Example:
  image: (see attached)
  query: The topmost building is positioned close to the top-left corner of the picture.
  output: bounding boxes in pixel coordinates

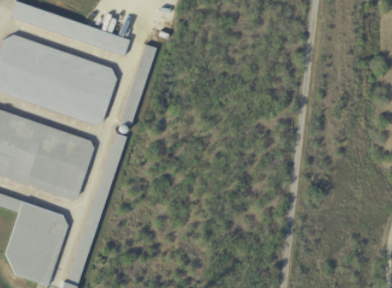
[11,0,130,54]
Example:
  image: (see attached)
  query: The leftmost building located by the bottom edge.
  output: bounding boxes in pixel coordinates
[6,202,70,286]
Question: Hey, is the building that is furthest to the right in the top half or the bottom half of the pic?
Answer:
top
